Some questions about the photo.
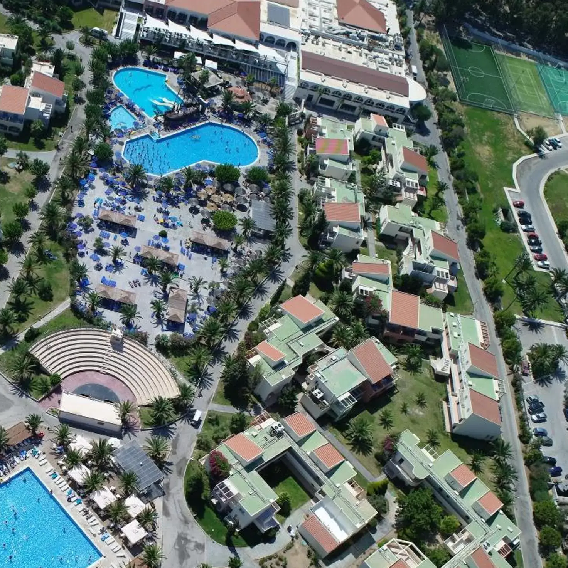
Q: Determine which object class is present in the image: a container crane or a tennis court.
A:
tennis court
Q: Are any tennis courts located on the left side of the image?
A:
No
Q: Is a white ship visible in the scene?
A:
No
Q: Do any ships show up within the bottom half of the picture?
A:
No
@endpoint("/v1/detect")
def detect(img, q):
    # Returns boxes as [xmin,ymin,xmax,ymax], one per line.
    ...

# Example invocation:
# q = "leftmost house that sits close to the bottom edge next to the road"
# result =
[204,411,370,565]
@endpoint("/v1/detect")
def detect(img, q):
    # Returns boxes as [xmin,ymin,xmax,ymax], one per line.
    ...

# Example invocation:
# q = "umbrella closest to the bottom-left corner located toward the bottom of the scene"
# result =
[106,435,123,449]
